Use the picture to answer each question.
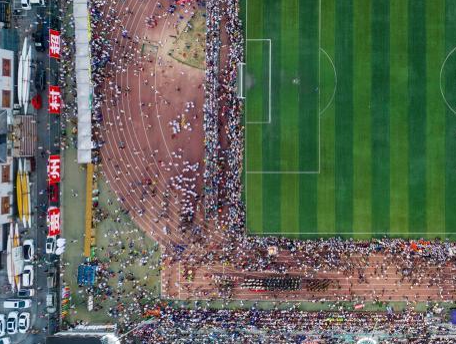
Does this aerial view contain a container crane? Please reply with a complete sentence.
No, this view has no container crane in it.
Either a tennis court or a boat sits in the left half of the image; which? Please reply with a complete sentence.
Looking in the left half of the image, you will find a boat.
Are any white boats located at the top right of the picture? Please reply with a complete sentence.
No, the scene shows no white boat at the top right of the picture.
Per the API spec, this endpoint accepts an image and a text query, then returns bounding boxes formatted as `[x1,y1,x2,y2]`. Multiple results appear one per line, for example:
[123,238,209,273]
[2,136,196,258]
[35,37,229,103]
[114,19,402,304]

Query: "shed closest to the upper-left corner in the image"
[0,28,25,49]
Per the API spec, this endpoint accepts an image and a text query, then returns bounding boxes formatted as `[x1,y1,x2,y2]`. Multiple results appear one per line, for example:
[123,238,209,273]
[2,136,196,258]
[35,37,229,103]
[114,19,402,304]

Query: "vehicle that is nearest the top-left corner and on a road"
[20,0,33,13]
